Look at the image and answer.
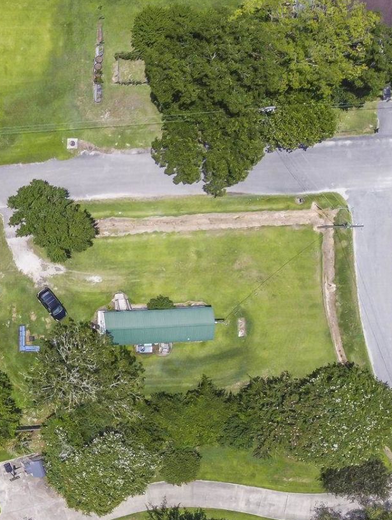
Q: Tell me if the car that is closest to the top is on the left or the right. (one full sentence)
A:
You can find the car that is closest to the top on the left side of the picture.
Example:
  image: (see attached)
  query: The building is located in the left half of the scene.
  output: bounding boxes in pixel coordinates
[97,306,215,344]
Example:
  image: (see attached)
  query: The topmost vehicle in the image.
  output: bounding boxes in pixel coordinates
[41,286,66,322]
